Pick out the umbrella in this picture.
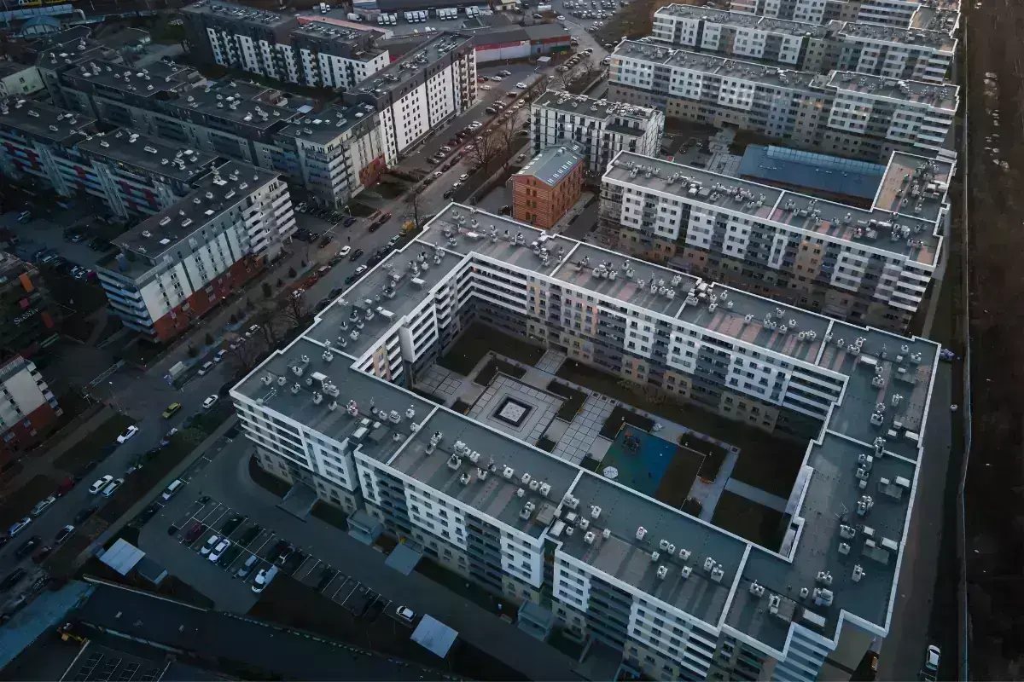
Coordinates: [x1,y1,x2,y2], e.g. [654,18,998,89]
[601,460,623,478]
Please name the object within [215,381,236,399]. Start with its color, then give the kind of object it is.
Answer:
black car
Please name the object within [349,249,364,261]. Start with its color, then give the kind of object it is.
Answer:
black vehicle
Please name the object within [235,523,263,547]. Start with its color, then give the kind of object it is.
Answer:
black car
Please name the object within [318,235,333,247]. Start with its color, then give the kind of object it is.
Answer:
black vehicle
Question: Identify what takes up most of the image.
buildings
